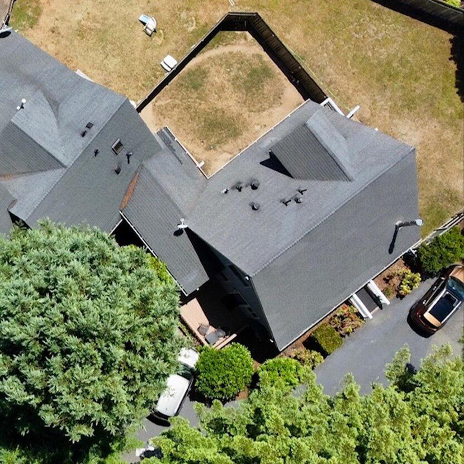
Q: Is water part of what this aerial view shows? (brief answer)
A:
No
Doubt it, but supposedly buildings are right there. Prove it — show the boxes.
[0,19,166,255]
[181,99,426,352]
